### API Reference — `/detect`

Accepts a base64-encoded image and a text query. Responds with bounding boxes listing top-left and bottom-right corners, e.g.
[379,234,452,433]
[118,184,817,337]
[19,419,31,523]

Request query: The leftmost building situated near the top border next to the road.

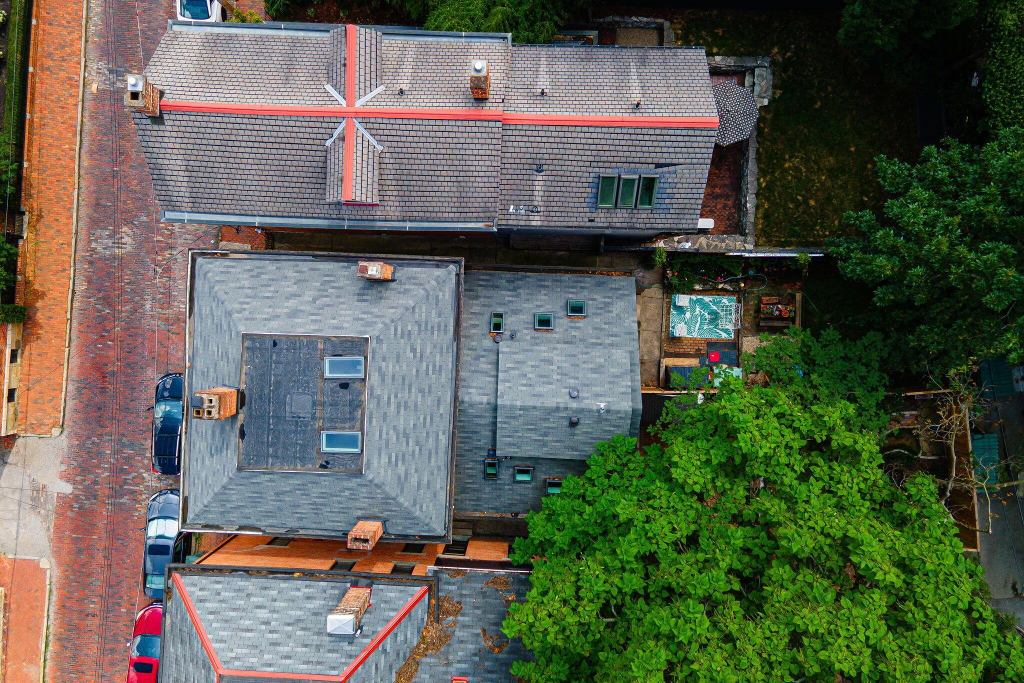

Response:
[123,24,720,238]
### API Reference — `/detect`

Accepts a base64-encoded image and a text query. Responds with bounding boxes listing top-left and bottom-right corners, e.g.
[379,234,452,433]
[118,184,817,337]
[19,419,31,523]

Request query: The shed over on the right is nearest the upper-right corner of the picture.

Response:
[890,88,947,153]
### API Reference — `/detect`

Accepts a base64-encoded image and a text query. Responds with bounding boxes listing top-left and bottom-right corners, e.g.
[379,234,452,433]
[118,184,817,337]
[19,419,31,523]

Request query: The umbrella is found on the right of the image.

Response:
[712,83,756,148]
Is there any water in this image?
No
